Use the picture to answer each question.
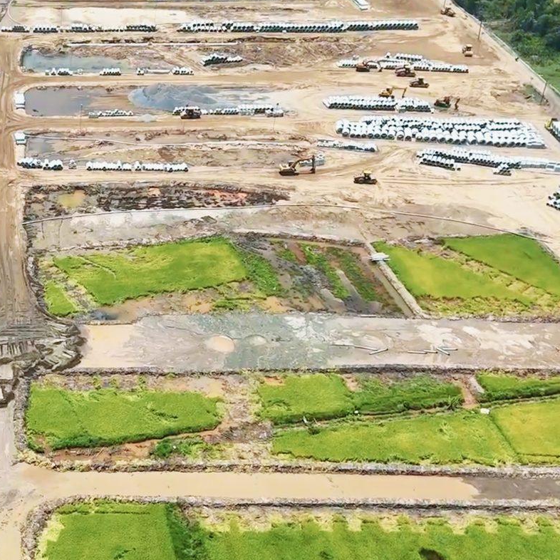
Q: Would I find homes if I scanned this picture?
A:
No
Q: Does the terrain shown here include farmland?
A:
Yes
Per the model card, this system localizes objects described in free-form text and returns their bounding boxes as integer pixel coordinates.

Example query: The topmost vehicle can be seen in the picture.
[442,4,458,17]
